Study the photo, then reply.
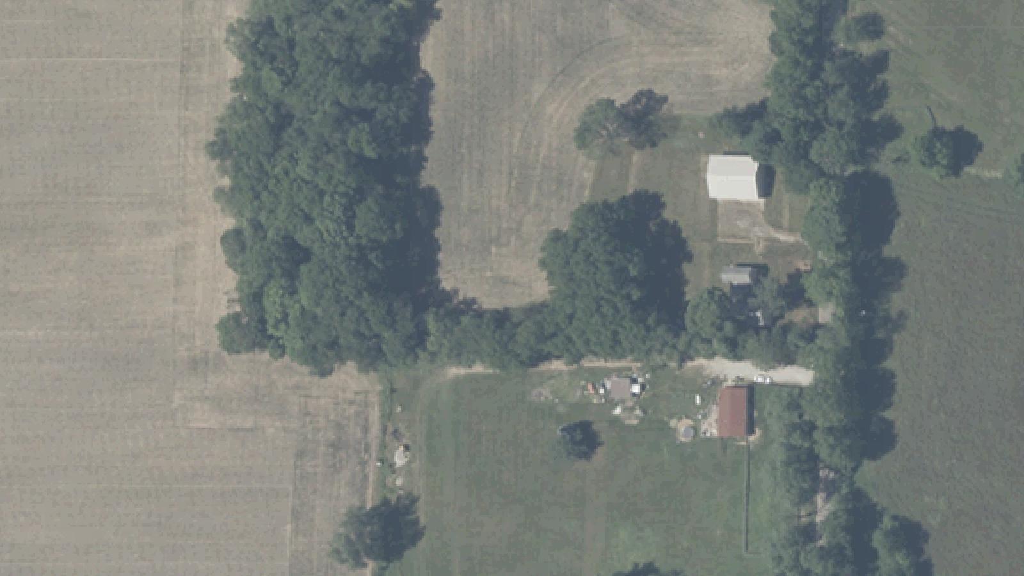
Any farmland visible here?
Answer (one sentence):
Yes, there is farmland in the image.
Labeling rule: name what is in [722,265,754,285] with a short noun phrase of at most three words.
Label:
shed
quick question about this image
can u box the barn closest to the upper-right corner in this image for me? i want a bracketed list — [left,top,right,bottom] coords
[708,153,761,201]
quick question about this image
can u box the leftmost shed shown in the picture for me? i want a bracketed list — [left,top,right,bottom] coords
[611,378,631,397]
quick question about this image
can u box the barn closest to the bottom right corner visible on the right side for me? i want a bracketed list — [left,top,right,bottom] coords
[718,386,749,438]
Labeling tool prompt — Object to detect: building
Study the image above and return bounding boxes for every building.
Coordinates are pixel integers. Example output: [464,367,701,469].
[722,265,754,285]
[611,378,631,397]
[718,386,749,438]
[708,153,761,201]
